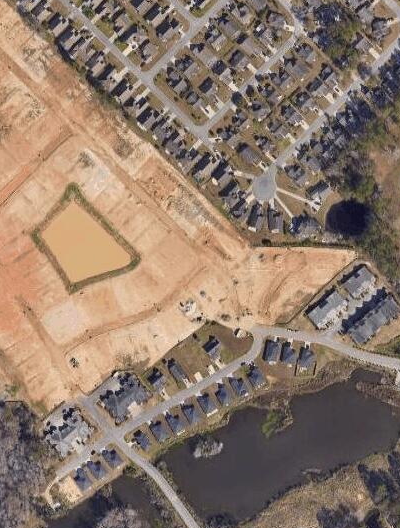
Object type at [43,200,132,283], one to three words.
pond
